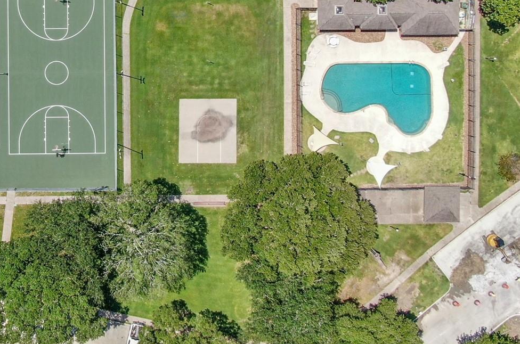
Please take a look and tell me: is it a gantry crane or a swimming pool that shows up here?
swimming pool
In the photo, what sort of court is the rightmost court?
basketball court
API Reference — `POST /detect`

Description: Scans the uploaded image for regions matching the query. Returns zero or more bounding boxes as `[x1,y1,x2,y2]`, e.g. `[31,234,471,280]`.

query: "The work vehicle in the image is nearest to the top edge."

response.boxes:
[482,228,509,260]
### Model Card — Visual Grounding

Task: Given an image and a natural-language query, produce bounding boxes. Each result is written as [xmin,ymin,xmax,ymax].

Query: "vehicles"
[129,321,146,344]
[482,228,509,260]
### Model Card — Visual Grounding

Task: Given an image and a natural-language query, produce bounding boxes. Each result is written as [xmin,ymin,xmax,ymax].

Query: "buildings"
[318,0,461,35]
[418,184,460,223]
